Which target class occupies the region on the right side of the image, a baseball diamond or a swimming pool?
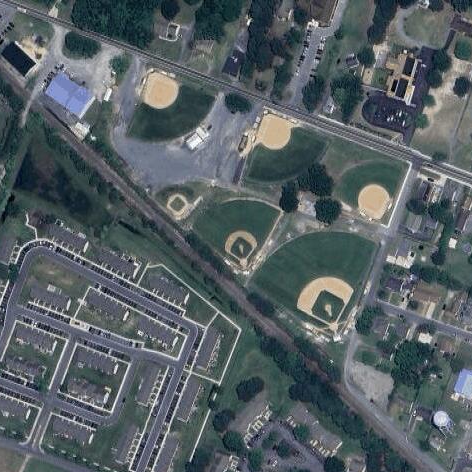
baseball diamond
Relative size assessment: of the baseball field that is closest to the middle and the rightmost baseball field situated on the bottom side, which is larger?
the rightmost baseball field situated on the bottom side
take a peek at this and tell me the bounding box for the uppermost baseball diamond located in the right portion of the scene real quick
[246,108,330,186]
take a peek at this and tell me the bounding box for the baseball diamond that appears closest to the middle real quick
[194,196,281,269]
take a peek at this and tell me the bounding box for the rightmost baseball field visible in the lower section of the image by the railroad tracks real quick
[245,230,383,337]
